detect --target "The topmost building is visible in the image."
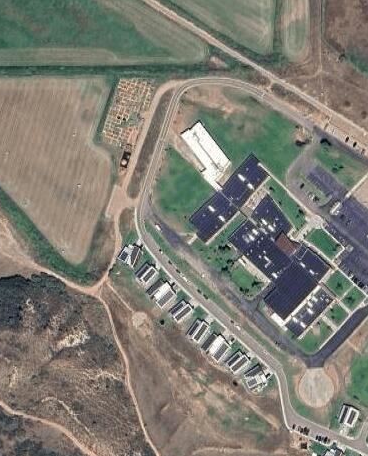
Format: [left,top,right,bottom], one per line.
[181,123,231,191]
